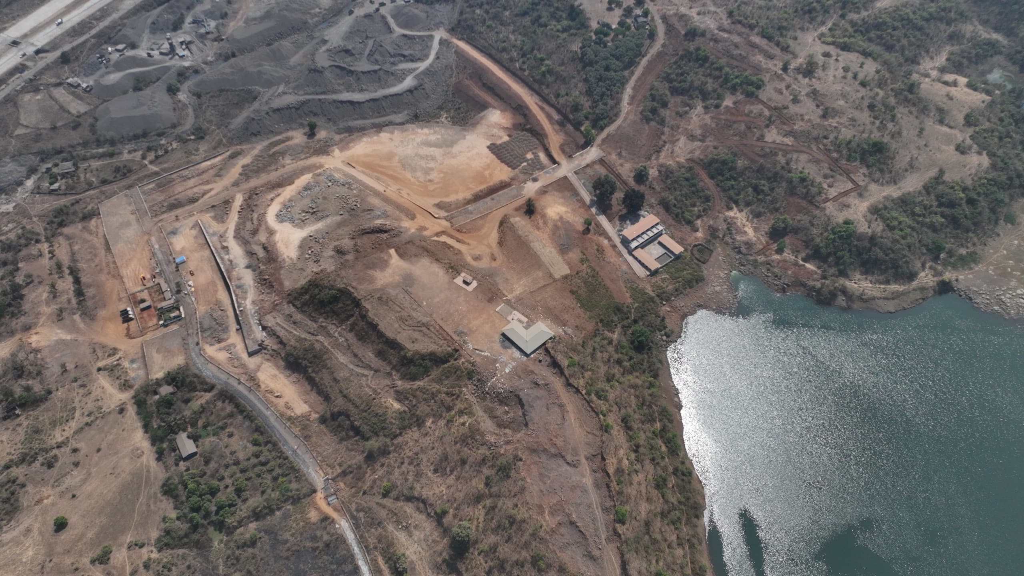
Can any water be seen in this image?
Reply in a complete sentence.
Yes, water can be seen from above here.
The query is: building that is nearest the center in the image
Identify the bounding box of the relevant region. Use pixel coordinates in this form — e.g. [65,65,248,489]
[504,321,555,357]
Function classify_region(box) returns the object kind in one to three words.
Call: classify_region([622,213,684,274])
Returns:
house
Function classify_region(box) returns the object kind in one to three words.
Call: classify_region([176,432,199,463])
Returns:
house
